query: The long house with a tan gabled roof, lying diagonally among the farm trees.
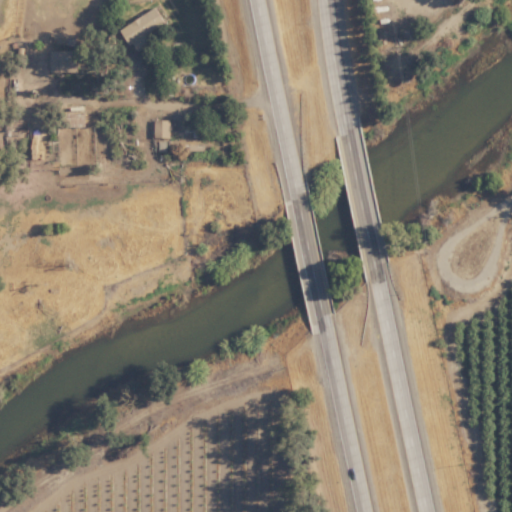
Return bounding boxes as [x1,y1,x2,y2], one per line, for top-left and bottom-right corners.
[120,8,167,46]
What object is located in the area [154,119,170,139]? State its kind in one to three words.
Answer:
shed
